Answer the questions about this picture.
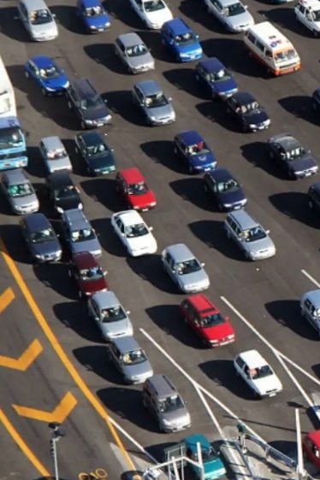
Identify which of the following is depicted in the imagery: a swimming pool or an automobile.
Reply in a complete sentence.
Of the two, only an automobile appears.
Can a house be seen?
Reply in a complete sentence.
No, no house is visible in the scene.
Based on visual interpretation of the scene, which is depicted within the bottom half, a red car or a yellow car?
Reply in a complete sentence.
It is a red car that can be seen within the bottom half.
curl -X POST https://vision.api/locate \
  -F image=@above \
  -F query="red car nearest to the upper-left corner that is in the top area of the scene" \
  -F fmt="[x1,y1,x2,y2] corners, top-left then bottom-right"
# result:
[117,166,158,209]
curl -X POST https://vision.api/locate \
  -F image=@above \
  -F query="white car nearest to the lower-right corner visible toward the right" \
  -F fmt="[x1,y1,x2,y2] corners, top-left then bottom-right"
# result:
[235,349,279,396]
